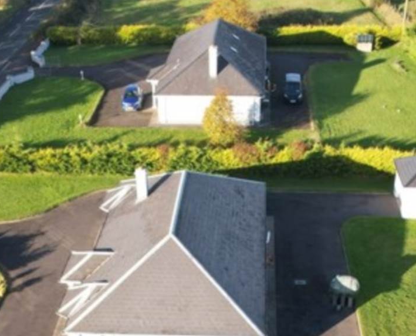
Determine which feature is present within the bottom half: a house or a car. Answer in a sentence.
It is a house that can be seen within the bottom half.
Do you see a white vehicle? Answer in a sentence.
No, there appears to be no white vehicle in this shot.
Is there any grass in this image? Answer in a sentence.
Yes, grass can be seen from above here.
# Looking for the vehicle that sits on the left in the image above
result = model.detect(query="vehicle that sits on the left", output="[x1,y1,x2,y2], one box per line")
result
[119,84,143,108]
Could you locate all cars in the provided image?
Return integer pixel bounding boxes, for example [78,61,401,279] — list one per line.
[119,84,143,108]
[281,74,303,100]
